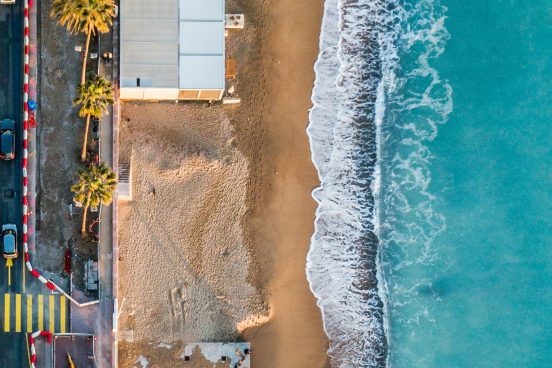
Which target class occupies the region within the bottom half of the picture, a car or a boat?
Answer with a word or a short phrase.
car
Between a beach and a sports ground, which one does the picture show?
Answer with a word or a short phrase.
beach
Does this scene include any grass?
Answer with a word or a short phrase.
No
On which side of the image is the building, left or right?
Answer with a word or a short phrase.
left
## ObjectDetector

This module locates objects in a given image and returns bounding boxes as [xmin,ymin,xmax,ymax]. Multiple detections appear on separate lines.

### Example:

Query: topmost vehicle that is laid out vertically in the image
[0,123,17,160]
